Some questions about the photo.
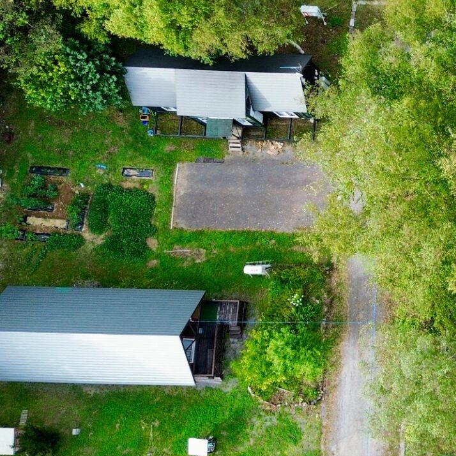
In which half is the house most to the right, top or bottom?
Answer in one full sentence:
The top half of the photo is where the house most to the right is.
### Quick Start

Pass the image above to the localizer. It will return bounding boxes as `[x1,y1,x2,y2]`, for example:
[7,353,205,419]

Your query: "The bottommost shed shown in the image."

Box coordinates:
[0,426,32,455]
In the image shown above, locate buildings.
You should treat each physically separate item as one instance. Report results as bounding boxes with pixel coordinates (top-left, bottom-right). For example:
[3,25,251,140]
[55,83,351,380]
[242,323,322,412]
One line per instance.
[124,48,320,154]
[0,426,32,455]
[0,286,230,391]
